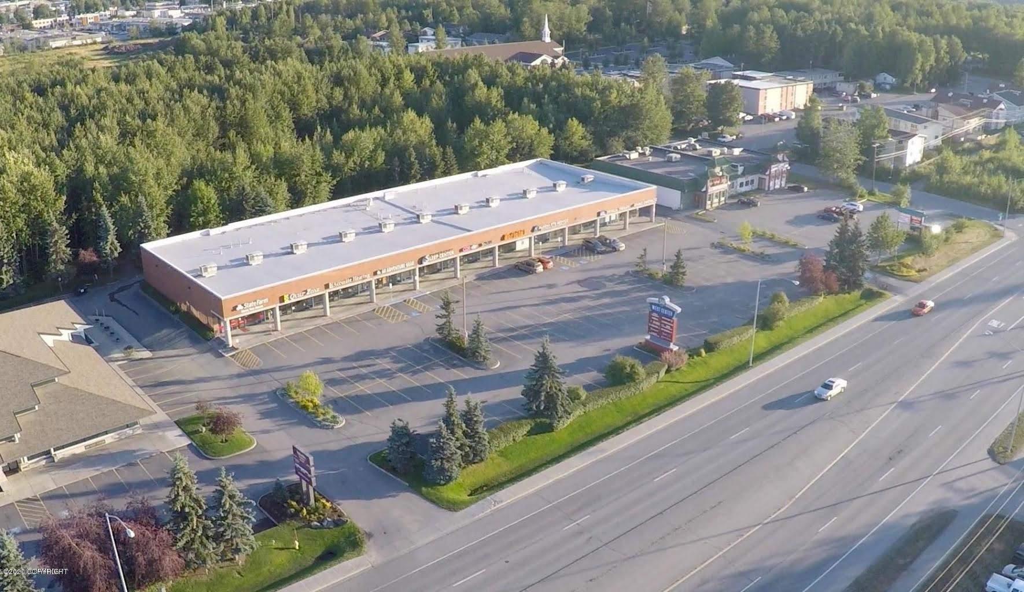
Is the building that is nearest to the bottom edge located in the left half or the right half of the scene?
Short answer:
left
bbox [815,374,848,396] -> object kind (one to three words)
car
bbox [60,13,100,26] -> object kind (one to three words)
building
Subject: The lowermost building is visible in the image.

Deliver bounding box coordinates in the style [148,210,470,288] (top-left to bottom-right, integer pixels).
[0,299,157,487]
